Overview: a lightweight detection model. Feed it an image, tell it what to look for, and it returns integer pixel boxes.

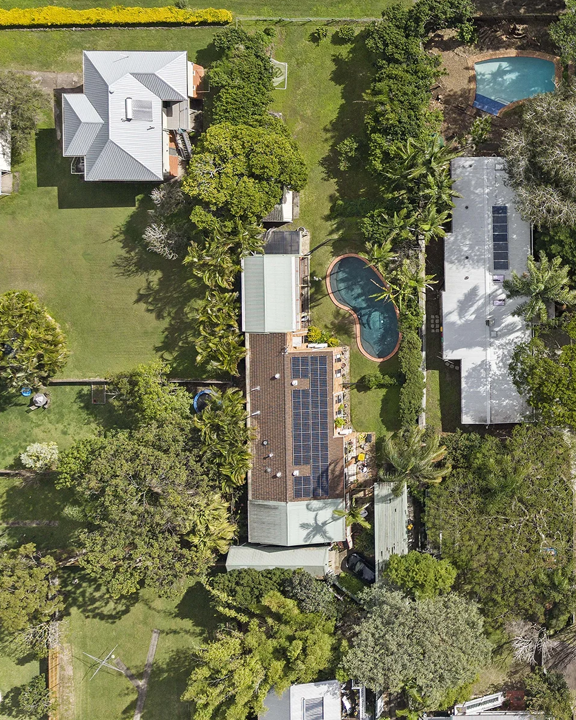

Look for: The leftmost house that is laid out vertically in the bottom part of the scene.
[247,330,354,552]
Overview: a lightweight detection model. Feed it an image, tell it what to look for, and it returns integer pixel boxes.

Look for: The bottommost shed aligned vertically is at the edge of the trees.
[373,483,408,582]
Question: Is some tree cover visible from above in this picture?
Yes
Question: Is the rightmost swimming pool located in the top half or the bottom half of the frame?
top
